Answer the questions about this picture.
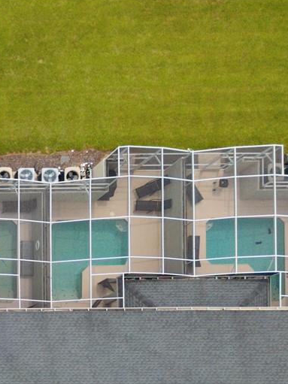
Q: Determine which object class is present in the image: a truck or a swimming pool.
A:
swimming pool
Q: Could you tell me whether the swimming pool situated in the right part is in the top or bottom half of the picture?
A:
bottom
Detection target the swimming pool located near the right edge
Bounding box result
[207,220,282,303]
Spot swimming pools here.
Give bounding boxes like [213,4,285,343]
[0,221,15,302]
[207,220,282,303]
[52,211,127,299]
